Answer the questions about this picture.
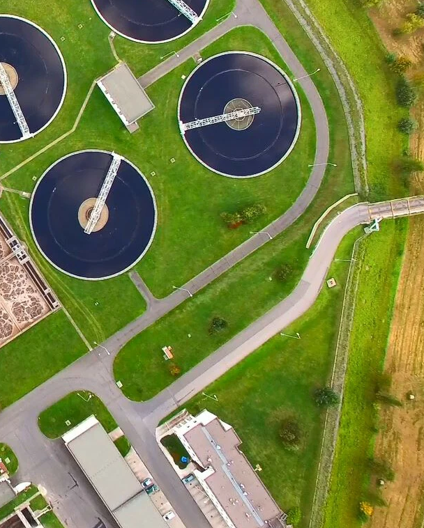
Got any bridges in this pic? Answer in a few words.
Yes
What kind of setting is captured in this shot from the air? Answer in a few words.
industrial area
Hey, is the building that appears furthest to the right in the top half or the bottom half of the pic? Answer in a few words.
bottom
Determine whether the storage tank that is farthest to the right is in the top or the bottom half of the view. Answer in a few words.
top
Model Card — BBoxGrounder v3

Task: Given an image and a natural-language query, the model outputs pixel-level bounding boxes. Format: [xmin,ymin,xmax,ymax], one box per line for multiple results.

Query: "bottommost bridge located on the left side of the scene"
[84,153,123,233]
